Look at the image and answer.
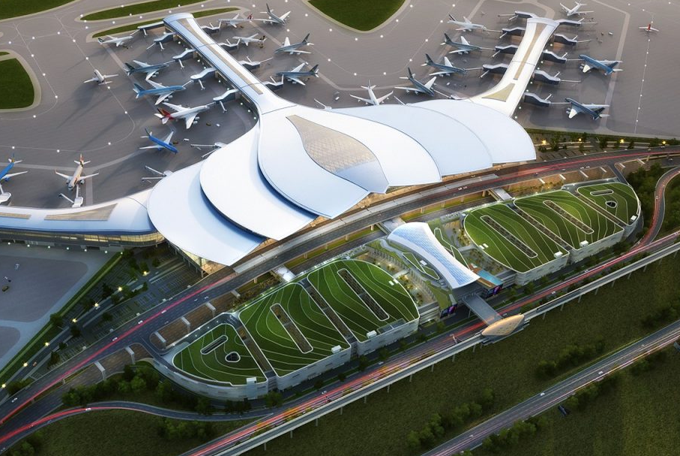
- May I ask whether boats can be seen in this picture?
No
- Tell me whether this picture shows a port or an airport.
airport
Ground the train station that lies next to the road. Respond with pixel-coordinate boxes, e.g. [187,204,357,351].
[479,312,531,343]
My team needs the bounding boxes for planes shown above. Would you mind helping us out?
[58,158,98,191]
[275,37,311,55]
[348,78,395,105]
[278,63,318,82]
[448,15,486,32]
[259,6,291,26]
[0,158,22,182]
[158,102,208,126]
[560,0,593,18]
[442,35,480,53]
[566,99,607,117]
[233,33,266,46]
[637,17,663,34]
[221,15,253,27]
[126,60,169,79]
[135,80,184,104]
[98,35,133,47]
[89,72,116,84]
[580,56,616,72]
[399,69,437,97]
[424,54,465,74]
[143,131,178,154]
